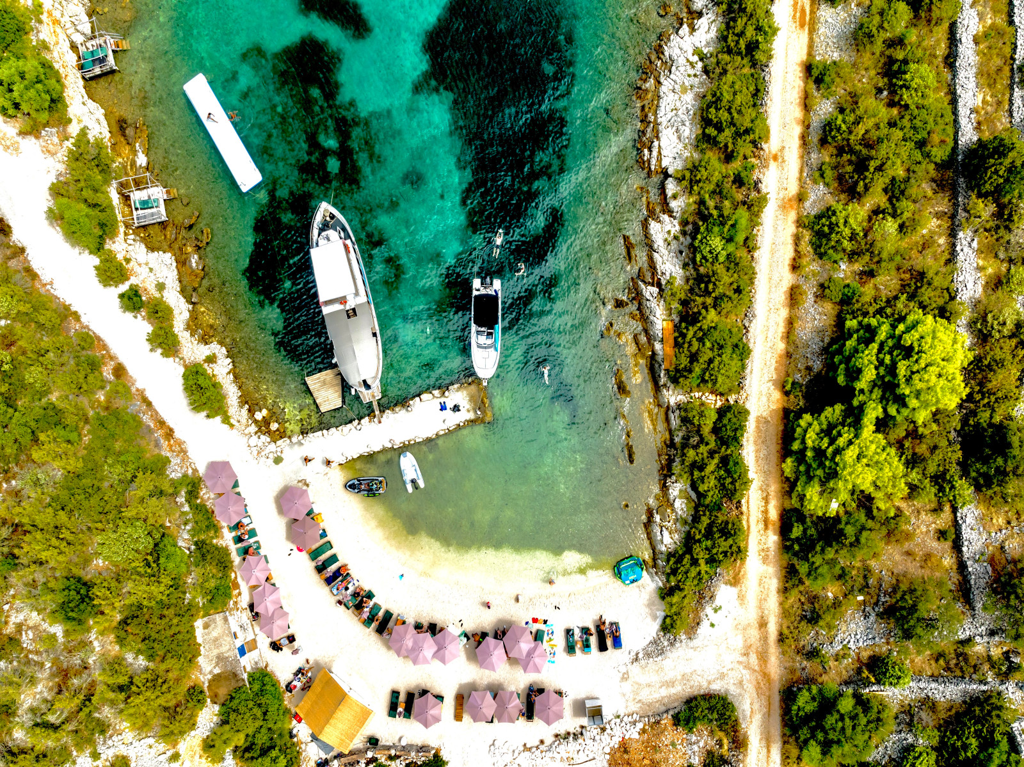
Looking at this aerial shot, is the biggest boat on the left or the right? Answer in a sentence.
The biggest boat is on the left side of the image.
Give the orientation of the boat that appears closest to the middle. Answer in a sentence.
The boat that appears closest to the middle has been laid out from top to bottom relative to the frame.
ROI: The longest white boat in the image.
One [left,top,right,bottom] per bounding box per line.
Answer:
[310,202,383,403]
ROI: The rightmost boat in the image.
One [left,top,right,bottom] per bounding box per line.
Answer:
[469,275,501,386]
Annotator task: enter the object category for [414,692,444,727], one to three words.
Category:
umbrella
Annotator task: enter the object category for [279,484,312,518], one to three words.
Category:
umbrella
